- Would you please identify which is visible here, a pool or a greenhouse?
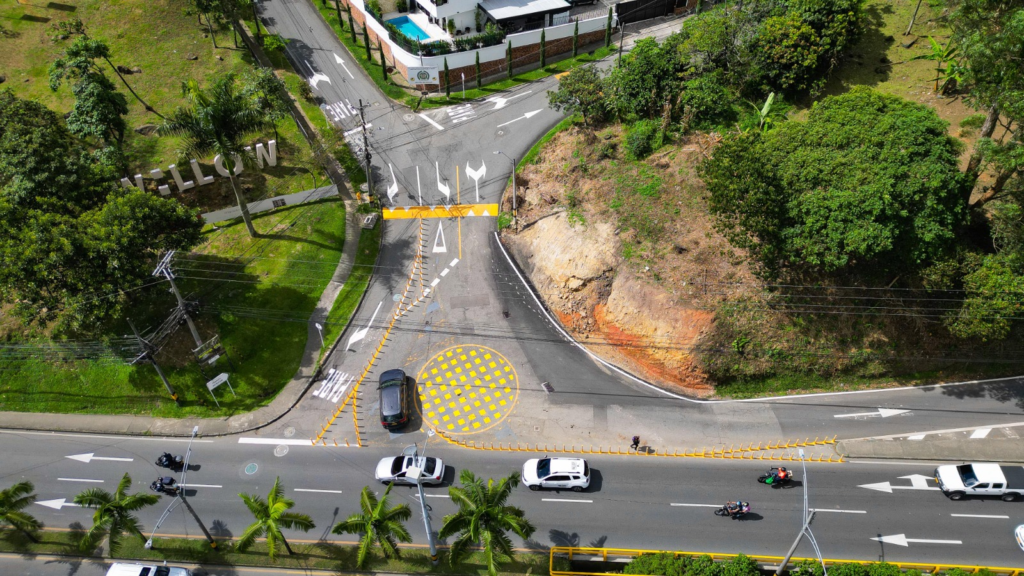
pool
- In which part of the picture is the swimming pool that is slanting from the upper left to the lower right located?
top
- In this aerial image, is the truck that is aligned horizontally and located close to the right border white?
Yes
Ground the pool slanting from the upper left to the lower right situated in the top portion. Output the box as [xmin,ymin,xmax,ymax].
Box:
[389,13,435,41]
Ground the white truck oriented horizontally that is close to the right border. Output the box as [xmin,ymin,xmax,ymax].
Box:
[939,463,1024,502]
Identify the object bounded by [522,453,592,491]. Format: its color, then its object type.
white car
